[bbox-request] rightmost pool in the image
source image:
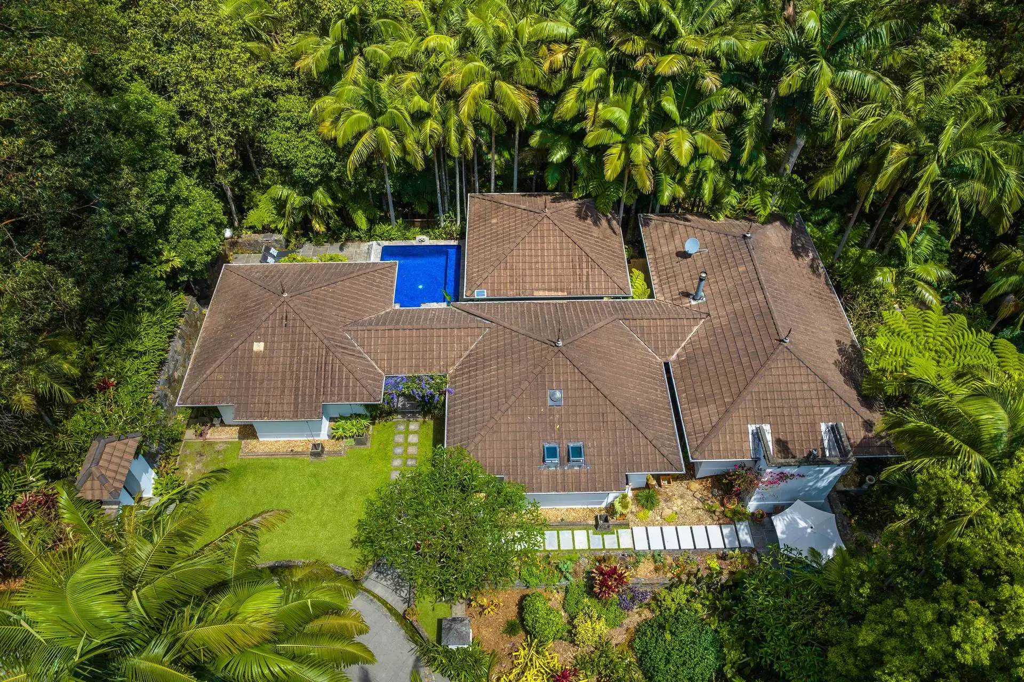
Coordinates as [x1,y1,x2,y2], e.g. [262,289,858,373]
[370,230,468,306]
